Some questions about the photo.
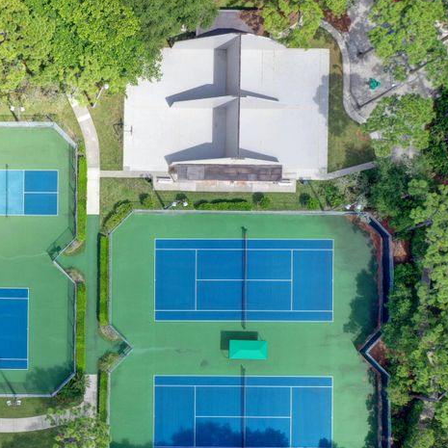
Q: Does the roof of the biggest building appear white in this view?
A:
Yes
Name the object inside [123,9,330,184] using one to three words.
building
